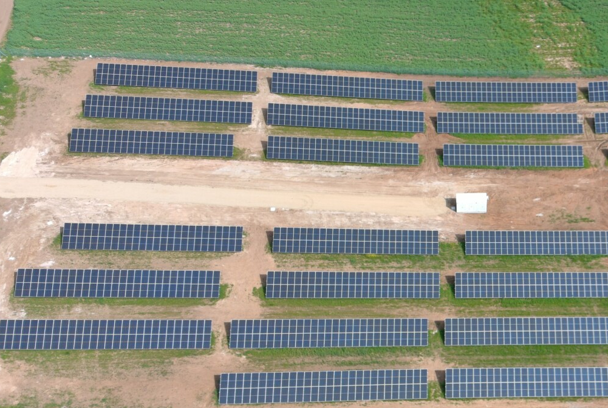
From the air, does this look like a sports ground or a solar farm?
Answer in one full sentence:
The area seen from above is a solar farm.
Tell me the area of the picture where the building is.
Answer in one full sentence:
The building is in the right part of the image.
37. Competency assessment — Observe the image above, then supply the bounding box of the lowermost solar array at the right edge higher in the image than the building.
[443,144,584,166]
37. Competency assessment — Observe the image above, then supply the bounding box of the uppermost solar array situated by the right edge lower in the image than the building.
[465,231,608,255]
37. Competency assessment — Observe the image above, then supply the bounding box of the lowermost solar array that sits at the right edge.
[444,368,608,398]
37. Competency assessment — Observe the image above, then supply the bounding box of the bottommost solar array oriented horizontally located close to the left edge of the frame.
[0,320,213,349]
